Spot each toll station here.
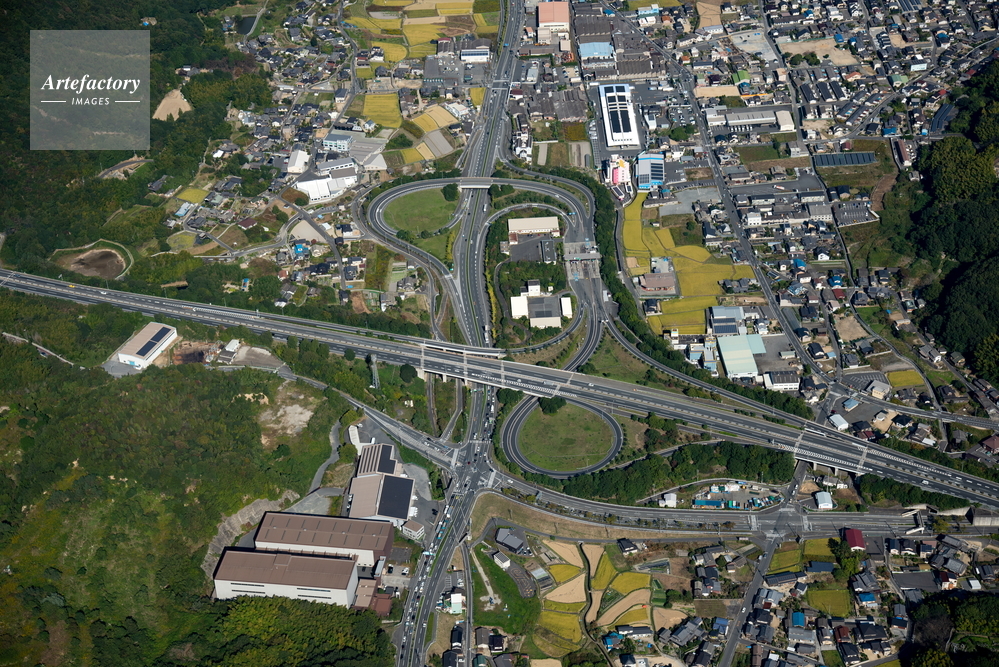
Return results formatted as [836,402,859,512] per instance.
[564,251,600,276]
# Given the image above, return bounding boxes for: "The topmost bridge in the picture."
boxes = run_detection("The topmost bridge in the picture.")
[452,178,511,191]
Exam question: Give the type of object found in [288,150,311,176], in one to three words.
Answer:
building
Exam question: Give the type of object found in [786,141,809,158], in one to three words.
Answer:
house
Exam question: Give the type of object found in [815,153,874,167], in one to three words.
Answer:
solar array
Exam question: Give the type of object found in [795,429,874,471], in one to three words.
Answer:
bridge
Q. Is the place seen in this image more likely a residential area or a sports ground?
residential area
